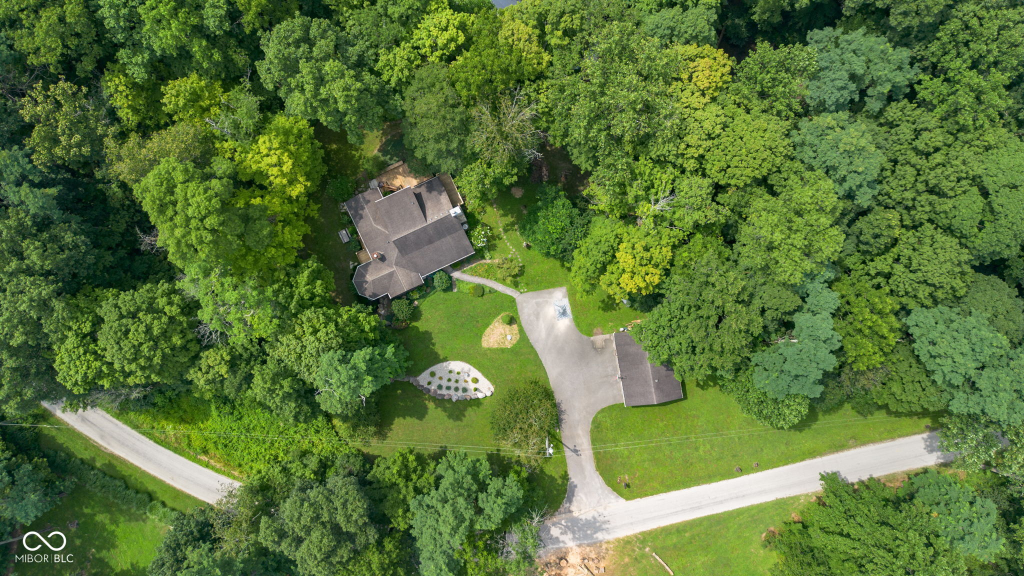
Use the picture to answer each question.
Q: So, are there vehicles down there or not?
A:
No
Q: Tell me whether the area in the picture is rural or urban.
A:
rural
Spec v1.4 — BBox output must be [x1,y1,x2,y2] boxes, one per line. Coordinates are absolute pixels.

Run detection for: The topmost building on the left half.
[344,176,475,300]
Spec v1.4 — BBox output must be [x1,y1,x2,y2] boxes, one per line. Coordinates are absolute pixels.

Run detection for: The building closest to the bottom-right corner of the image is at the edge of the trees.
[614,330,683,407]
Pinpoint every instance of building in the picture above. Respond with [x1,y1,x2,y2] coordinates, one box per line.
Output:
[344,176,475,300]
[614,330,683,407]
